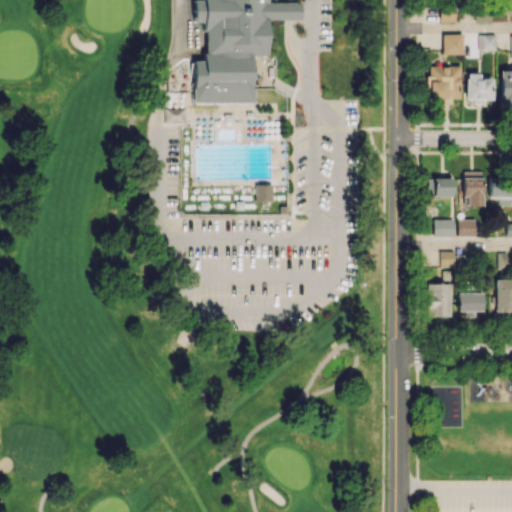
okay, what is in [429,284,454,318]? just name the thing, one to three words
house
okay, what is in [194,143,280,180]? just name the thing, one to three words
swimming pool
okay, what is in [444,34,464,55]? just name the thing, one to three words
building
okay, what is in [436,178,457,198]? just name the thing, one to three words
house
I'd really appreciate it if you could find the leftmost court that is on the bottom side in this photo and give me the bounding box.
[432,387,462,428]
